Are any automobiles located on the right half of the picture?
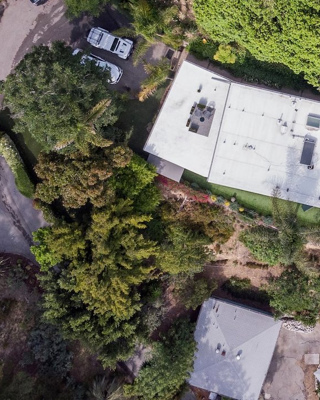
No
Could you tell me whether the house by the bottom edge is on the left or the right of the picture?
right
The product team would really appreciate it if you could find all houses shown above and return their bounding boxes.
[143,61,320,207]
[188,295,284,400]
